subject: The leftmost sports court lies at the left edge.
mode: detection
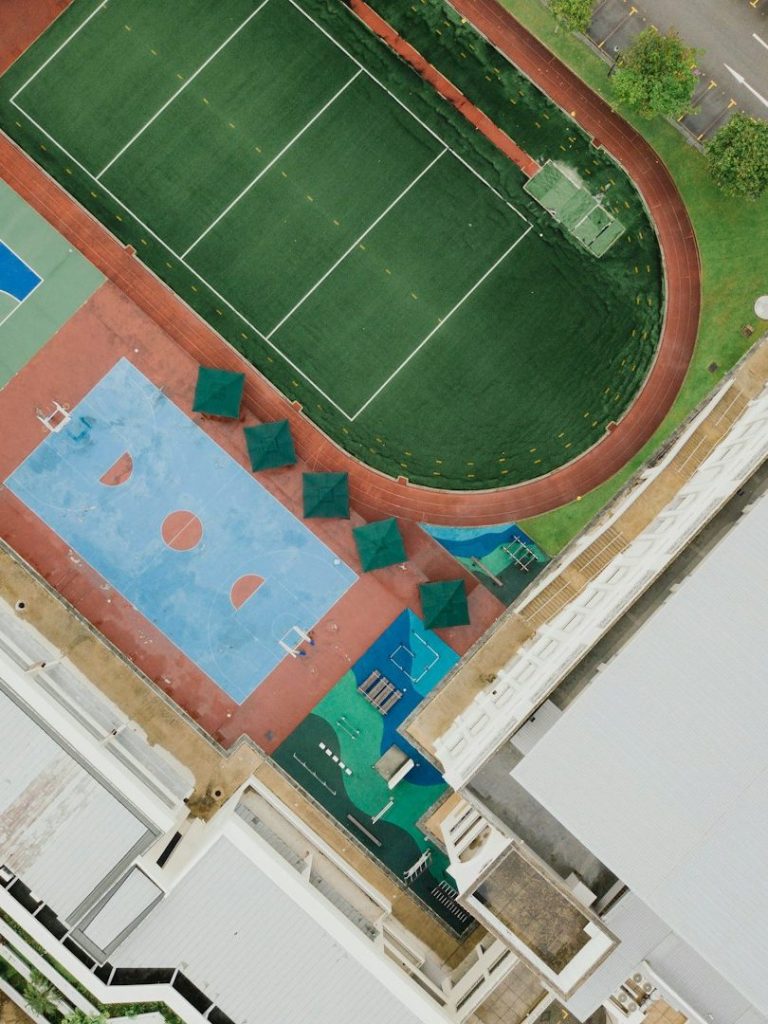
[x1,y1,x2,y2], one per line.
[0,184,103,390]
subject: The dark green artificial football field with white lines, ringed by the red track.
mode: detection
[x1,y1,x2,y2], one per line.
[0,0,662,491]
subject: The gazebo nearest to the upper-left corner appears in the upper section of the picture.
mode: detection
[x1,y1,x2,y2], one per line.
[193,366,246,419]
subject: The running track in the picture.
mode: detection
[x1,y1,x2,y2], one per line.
[0,0,702,528]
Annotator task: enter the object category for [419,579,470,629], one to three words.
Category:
gazebo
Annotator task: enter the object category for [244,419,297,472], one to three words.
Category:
gazebo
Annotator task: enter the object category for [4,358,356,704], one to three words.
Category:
basketball court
